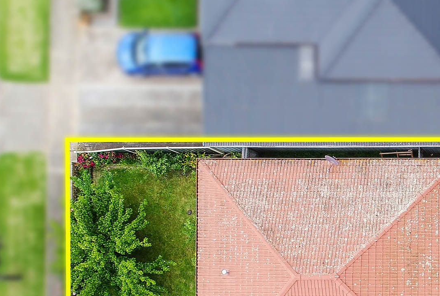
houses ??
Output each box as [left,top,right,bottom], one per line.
[198,0,440,155]
[196,158,440,296]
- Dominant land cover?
buildings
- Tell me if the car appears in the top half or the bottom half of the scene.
top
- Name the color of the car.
blue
